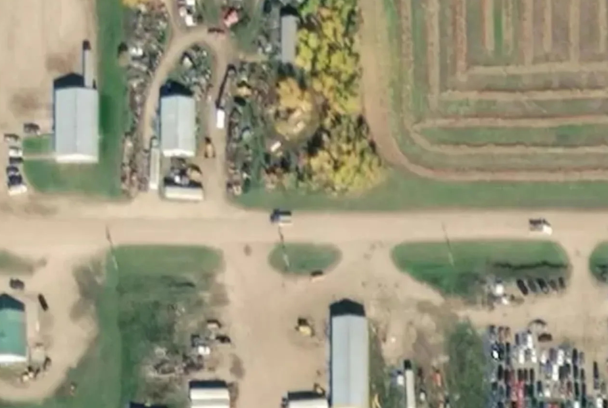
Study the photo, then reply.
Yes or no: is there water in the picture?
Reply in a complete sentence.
No, there is no water in the image.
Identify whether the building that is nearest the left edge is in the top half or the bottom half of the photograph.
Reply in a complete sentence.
The building that is nearest the left edge is in the bottom half of the image.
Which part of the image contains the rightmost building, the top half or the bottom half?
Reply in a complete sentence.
The rightmost building sits in the bottom half of the picture.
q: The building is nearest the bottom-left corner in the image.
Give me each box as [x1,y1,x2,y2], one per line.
[0,310,28,361]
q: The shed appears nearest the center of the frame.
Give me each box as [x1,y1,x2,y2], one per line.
[164,186,203,199]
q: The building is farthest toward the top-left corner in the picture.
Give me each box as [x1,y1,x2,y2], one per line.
[55,86,100,163]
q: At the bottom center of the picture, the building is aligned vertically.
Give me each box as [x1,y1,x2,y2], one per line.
[332,314,369,408]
